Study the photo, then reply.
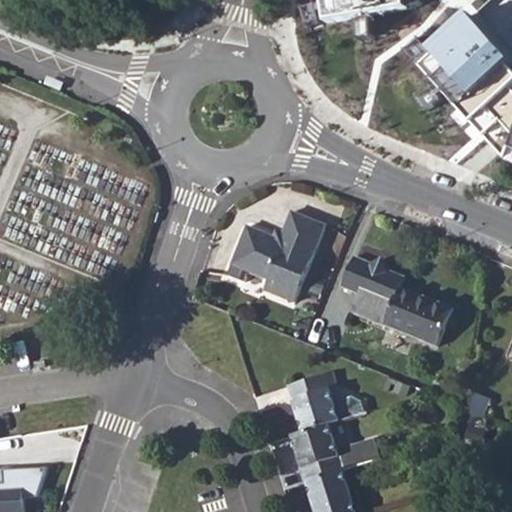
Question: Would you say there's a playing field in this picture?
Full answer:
No, the scene contains no playing field.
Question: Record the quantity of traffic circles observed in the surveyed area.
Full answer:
In total, 1 traffic circle can be seen.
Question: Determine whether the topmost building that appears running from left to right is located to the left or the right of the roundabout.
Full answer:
You can see the topmost building that appears running from left to right positioned to the right of the roundabout.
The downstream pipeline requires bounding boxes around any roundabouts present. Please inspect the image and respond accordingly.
[133,25,314,222]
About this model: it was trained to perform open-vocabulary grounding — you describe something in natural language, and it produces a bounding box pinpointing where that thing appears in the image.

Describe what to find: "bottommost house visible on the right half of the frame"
[285,457,356,512]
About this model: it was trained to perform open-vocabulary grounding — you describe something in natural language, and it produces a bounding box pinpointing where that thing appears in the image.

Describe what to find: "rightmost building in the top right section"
[416,10,512,163]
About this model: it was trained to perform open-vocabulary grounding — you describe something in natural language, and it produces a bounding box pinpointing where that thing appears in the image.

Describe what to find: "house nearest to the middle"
[228,211,326,304]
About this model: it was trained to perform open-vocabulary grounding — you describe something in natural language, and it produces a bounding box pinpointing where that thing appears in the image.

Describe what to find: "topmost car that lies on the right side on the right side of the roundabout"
[431,174,454,188]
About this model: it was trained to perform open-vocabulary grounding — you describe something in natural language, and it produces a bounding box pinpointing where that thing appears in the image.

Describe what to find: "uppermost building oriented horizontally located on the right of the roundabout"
[318,0,405,38]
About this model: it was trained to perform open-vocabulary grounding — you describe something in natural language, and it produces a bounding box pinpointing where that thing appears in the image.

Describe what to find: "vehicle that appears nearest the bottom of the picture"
[198,488,222,502]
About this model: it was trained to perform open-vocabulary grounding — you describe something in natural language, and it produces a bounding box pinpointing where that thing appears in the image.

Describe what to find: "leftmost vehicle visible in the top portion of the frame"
[213,177,232,196]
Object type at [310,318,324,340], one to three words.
car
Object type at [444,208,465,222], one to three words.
car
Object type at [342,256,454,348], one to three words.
house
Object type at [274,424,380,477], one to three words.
house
